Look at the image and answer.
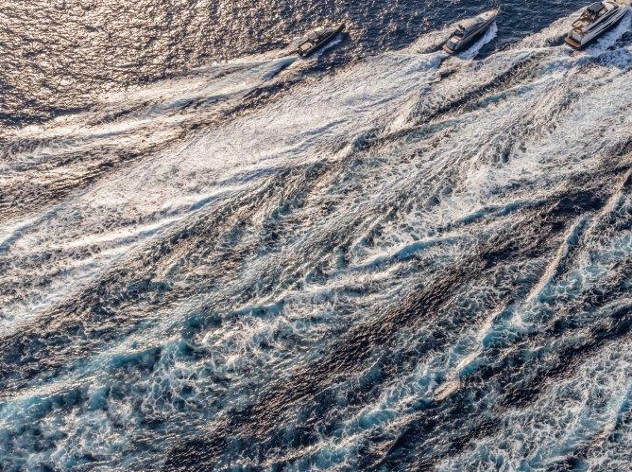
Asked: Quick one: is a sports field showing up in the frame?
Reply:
No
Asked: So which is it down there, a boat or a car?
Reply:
boat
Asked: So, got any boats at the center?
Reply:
No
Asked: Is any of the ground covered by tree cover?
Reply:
No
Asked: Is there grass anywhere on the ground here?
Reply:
No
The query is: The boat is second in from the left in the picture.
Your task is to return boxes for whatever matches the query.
[441,5,500,56]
